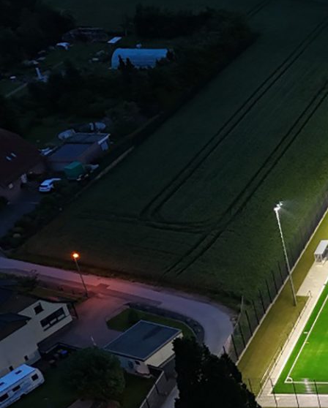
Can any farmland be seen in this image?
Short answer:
Yes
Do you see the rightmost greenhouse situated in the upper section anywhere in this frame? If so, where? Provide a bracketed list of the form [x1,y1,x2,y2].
[108,50,160,68]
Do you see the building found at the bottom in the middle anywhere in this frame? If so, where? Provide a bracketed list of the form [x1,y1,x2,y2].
[105,318,186,377]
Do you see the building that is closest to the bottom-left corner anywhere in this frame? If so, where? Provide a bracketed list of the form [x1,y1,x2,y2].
[0,286,72,366]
